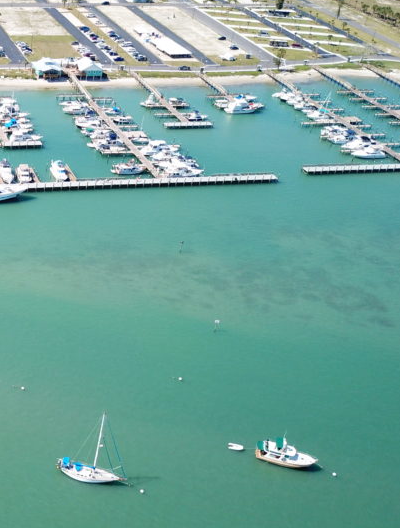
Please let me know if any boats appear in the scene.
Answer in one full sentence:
Yes, you can see a boat in this photo.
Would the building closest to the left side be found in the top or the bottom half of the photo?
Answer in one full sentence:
The building closest to the left side is in the top half of the image.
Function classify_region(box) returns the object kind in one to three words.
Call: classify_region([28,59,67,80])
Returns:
building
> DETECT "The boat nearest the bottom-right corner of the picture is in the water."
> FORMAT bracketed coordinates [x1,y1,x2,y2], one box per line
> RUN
[254,434,330,472]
